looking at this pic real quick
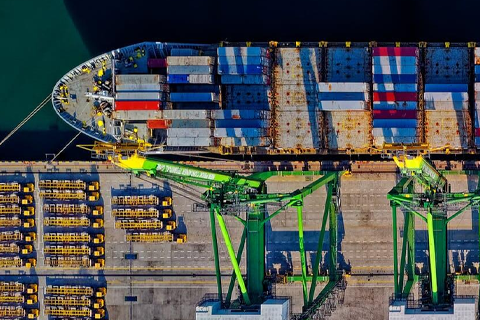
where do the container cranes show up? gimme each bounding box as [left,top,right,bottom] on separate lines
[367,145,480,320]
[89,145,346,320]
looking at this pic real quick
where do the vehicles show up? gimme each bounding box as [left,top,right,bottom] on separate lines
[0,216,38,228]
[126,232,190,243]
[0,257,38,267]
[0,243,37,254]
[39,180,103,190]
[0,292,41,303]
[0,281,41,293]
[43,204,107,214]
[0,182,38,192]
[44,232,108,243]
[112,195,175,207]
[0,205,38,216]
[44,306,108,318]
[38,190,102,201]
[0,195,36,205]
[46,285,110,296]
[112,207,176,219]
[0,231,39,243]
[116,219,180,231]
[0,306,43,317]
[43,296,107,308]
[43,245,107,256]
[44,256,108,267]
[44,217,108,228]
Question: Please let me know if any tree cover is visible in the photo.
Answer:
No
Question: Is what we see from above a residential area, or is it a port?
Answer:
port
